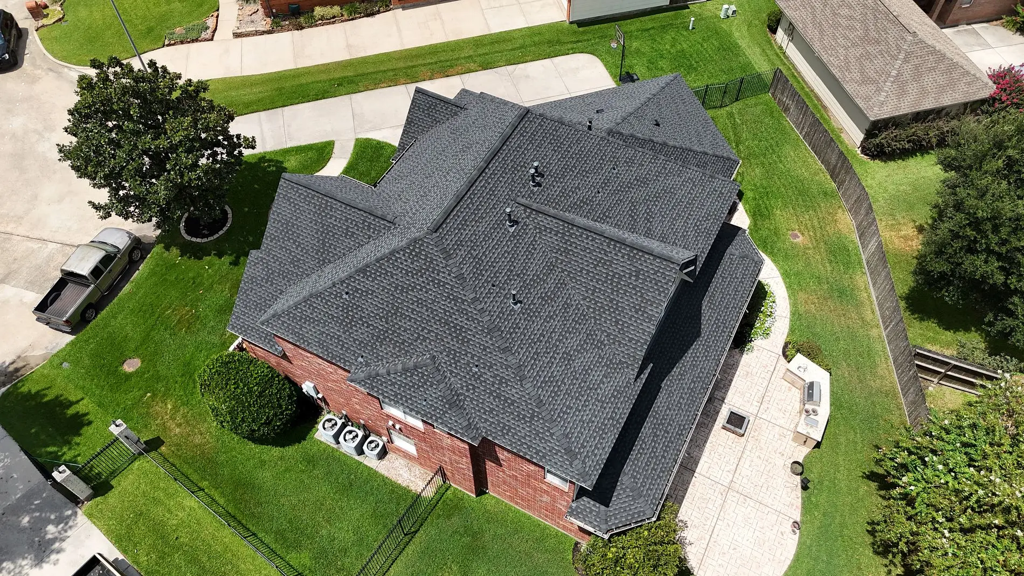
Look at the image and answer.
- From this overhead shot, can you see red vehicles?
No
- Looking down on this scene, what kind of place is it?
residential area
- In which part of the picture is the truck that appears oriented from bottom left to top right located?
left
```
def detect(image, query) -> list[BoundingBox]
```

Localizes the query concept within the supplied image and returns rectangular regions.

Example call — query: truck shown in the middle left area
[26,229,143,339]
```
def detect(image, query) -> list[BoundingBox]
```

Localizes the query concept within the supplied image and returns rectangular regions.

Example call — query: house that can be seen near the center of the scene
[226,72,767,544]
